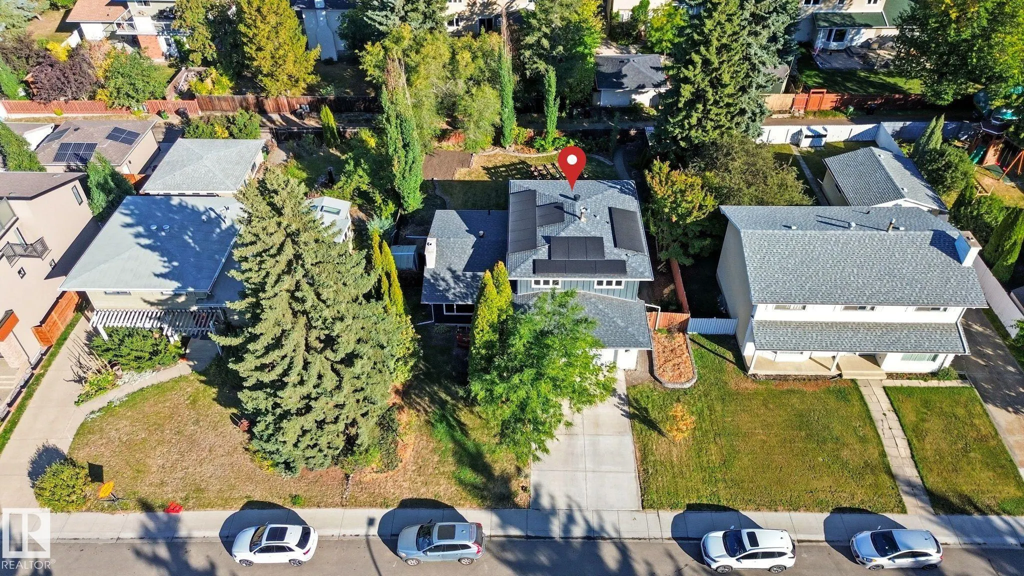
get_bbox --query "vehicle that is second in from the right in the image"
[702,523,799,573]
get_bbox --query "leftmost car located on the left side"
[228,519,320,566]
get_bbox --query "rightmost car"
[854,524,949,570]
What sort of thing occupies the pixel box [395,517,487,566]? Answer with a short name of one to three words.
car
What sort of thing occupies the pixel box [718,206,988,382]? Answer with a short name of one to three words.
house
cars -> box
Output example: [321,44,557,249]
[854,524,949,570]
[395,517,487,566]
[702,523,799,573]
[228,519,320,566]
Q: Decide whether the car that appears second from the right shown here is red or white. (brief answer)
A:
white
